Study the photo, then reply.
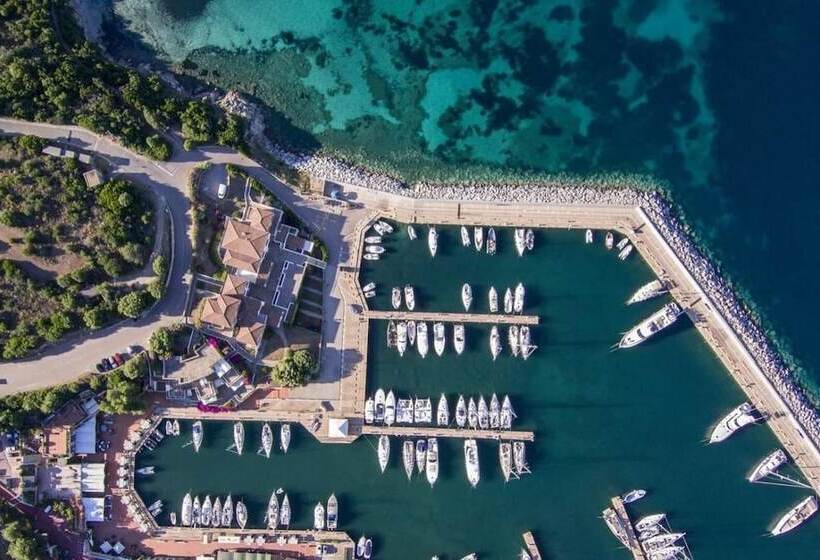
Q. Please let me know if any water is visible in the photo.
Yes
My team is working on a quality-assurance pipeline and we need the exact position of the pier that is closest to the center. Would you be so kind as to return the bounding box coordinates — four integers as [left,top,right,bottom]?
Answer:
[368,311,539,324]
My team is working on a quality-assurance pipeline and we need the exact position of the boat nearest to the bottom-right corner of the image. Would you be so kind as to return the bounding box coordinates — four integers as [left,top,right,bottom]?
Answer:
[774,493,819,537]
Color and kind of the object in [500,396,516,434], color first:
white boat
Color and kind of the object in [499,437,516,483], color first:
white boat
